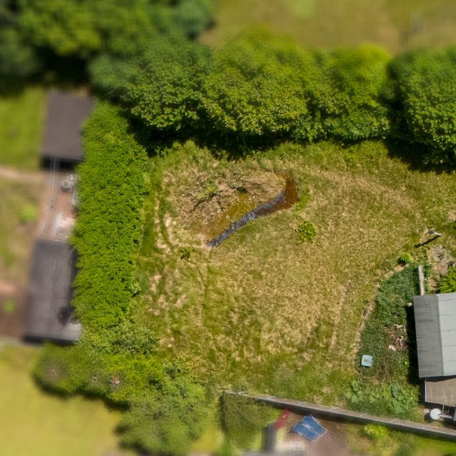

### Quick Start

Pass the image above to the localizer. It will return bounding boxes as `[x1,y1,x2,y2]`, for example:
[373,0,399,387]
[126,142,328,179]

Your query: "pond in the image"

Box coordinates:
[197,172,302,247]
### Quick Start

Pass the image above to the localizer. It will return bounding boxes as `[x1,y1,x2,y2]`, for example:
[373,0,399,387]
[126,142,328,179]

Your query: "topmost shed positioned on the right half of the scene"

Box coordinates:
[413,293,456,378]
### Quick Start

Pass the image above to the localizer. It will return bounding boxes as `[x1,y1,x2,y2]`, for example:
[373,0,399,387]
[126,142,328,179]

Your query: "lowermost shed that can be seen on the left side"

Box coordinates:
[25,240,82,342]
